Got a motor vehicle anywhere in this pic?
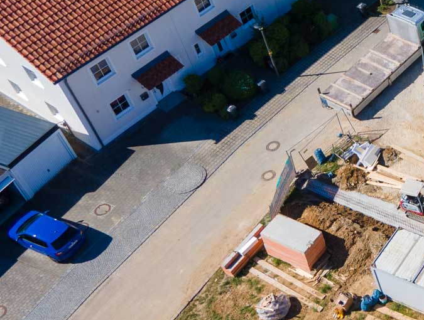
Yes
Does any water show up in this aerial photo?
No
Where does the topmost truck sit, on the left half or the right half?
right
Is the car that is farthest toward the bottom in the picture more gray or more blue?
blue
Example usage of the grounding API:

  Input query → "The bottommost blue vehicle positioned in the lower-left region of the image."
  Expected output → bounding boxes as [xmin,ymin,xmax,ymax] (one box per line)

[5,215,92,267]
